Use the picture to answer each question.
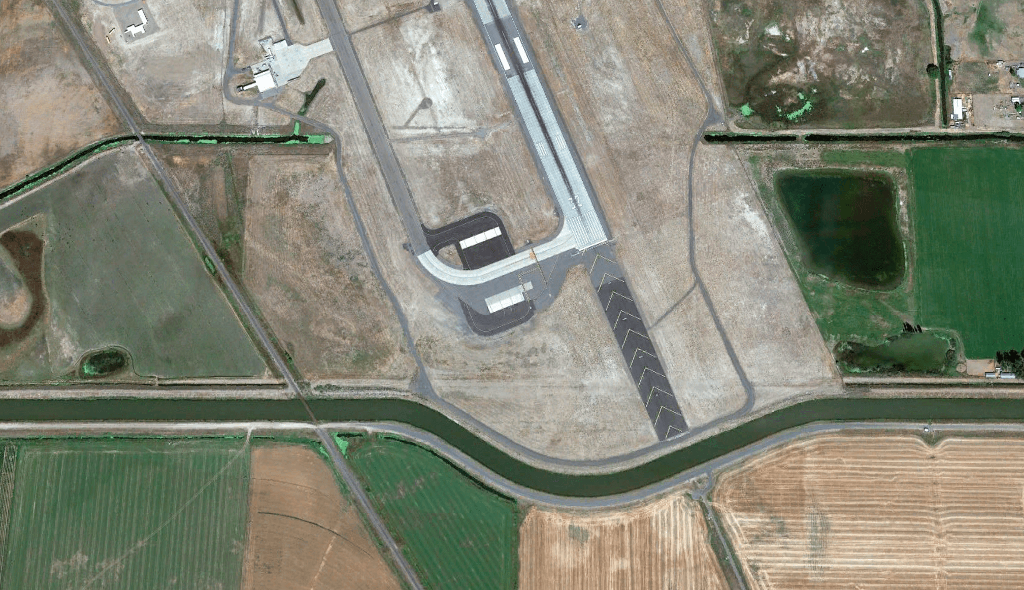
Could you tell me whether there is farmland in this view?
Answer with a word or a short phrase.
Yes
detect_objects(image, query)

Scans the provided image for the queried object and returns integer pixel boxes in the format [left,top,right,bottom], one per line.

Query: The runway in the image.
[474,0,607,250]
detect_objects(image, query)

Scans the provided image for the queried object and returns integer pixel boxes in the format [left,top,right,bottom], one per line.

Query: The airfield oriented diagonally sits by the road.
[251,0,688,443]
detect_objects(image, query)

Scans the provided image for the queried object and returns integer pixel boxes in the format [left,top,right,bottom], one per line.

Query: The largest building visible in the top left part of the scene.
[254,70,276,92]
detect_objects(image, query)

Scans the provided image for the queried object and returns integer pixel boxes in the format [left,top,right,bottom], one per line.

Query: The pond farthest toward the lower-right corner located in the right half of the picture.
[834,334,948,372]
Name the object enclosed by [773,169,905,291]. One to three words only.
pond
